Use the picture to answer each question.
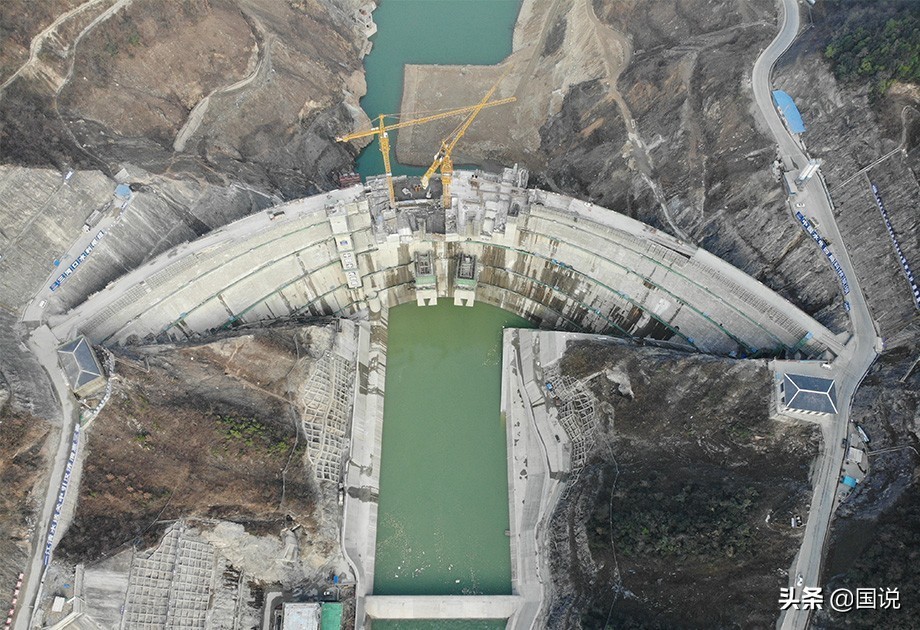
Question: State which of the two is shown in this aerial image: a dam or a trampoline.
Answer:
dam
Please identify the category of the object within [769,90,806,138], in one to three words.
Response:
shed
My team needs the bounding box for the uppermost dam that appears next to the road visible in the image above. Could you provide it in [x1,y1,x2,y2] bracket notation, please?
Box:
[42,165,837,368]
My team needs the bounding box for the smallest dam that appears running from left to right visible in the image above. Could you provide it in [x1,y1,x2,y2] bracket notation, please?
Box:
[368,596,525,618]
